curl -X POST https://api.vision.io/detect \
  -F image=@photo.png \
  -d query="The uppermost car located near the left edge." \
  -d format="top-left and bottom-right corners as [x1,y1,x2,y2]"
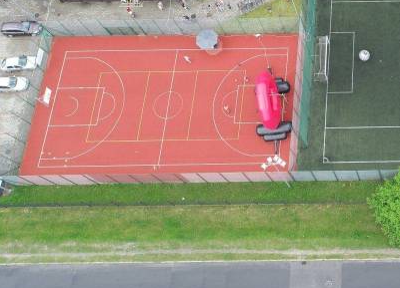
[0,20,43,39]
